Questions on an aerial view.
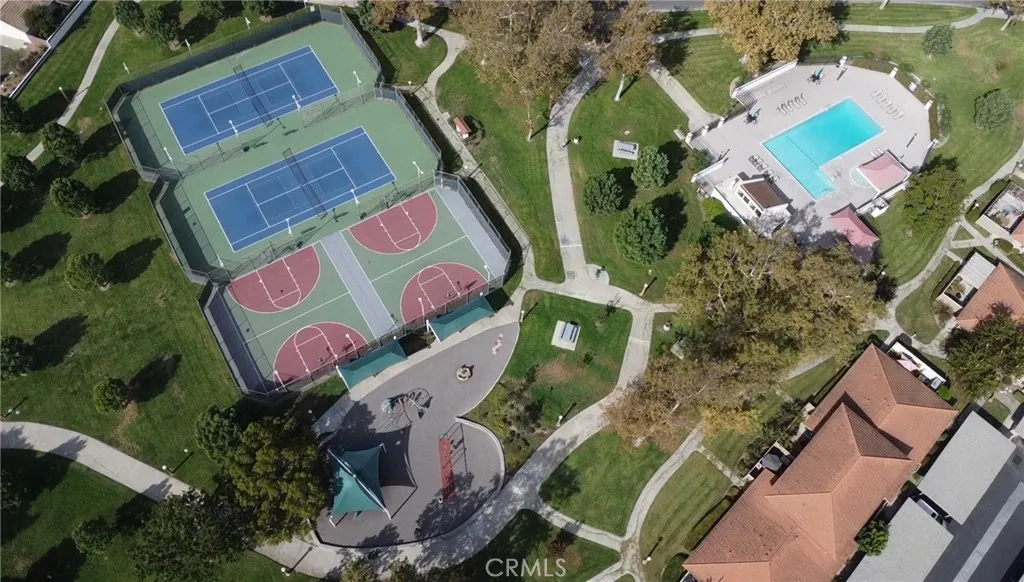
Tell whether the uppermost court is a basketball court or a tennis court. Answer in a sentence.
In the photo, the uppermost court shows up as a tennis court.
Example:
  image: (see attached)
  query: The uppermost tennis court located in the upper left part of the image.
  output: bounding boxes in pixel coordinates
[117,23,376,183]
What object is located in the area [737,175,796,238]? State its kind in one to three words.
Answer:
building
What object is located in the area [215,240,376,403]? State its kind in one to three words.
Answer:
basketball court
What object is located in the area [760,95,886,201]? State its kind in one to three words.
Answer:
swimming pool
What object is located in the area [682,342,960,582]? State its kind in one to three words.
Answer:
house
